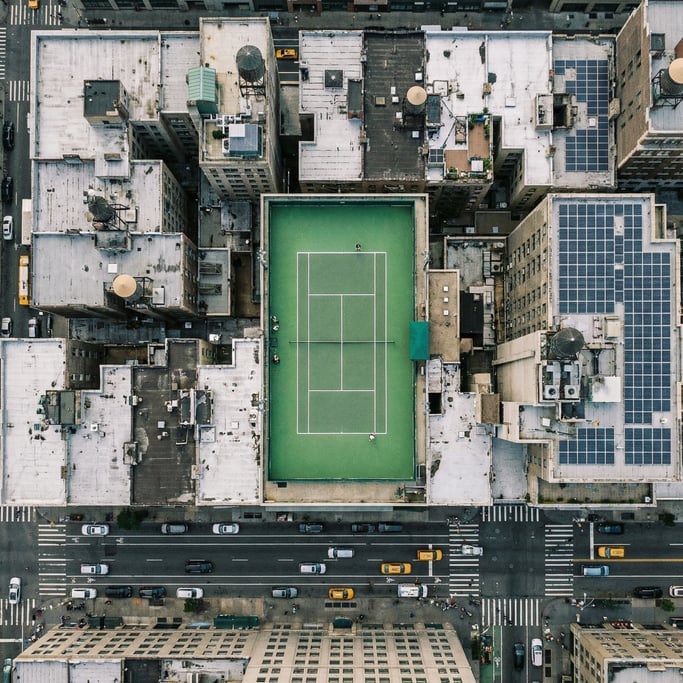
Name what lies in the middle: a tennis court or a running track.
tennis court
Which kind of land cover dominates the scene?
buildings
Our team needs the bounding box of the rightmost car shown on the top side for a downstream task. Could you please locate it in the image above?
[275,47,299,61]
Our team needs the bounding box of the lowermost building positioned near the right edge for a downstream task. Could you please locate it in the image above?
[572,625,683,683]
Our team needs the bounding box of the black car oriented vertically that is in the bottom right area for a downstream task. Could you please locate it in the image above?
[513,642,526,670]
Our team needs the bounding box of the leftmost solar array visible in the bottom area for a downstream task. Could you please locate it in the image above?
[558,428,614,465]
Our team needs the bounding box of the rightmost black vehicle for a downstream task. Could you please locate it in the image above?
[633,586,662,599]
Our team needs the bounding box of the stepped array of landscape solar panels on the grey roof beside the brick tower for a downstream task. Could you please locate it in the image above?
[555,61,608,171]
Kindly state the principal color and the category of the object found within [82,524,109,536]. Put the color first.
white vehicle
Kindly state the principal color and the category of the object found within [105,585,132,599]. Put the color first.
black vehicle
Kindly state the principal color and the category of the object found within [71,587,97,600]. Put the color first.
white vehicle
